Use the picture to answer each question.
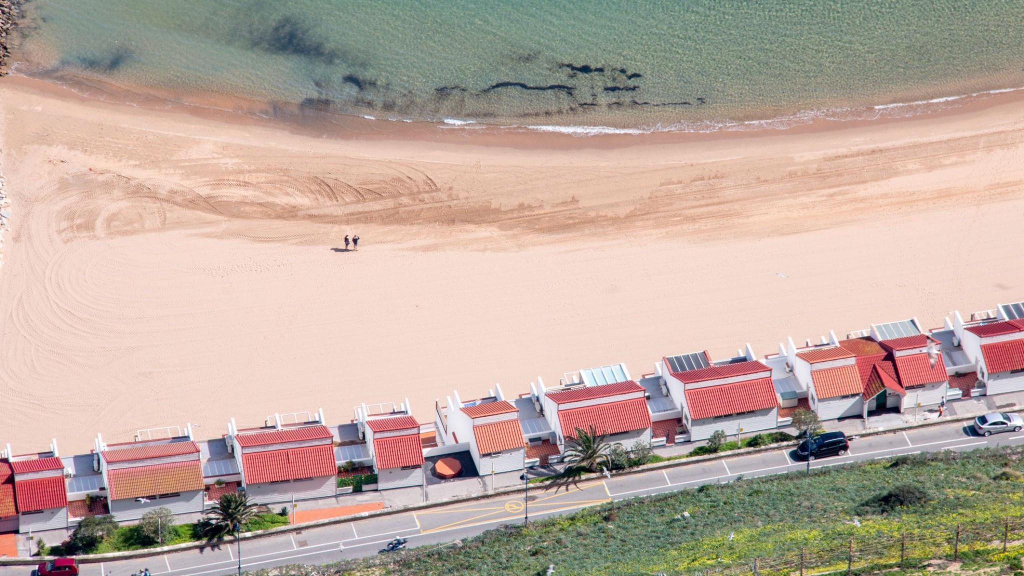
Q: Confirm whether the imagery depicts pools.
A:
No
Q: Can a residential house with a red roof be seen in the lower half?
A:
Yes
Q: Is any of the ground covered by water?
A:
Yes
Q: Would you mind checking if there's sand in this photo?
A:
Yes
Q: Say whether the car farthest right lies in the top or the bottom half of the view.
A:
bottom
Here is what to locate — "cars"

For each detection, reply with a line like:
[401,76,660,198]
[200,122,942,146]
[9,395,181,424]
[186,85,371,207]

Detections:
[35,558,79,576]
[801,430,849,460]
[975,412,1024,436]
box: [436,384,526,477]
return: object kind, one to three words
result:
house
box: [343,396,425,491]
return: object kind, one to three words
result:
house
